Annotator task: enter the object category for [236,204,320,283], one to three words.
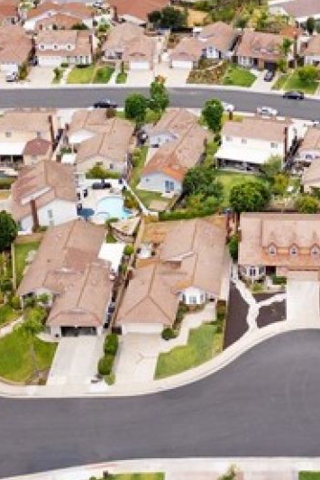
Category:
house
